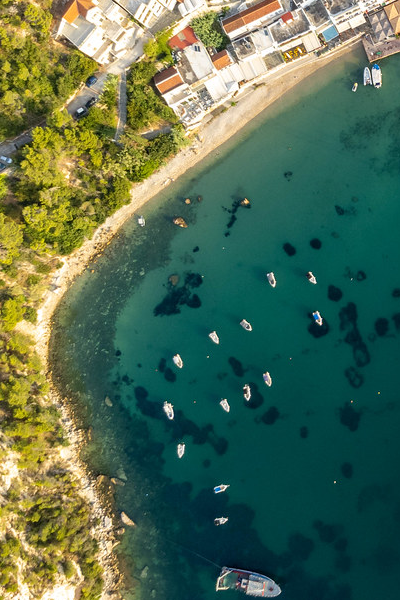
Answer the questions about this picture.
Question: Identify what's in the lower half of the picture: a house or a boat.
boat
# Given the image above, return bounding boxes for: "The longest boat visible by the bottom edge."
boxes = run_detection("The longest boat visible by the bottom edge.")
[215,564,281,596]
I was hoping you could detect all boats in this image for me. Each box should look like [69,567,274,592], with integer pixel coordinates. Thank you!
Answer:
[306,271,315,284]
[215,564,281,596]
[267,271,275,287]
[239,318,251,330]
[243,383,250,401]
[178,441,185,457]
[263,370,271,386]
[172,353,182,368]
[212,485,228,493]
[139,214,145,226]
[372,64,382,89]
[209,330,218,344]
[212,518,228,525]
[163,400,173,419]
[220,398,229,411]
[313,309,321,325]
[364,66,371,87]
